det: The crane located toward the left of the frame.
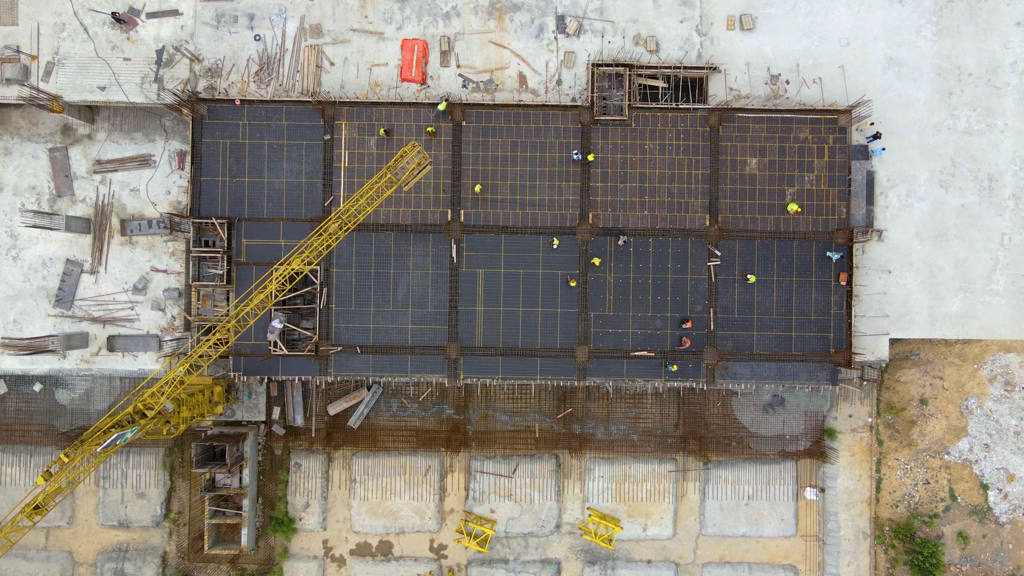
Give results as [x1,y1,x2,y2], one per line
[0,138,439,565]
